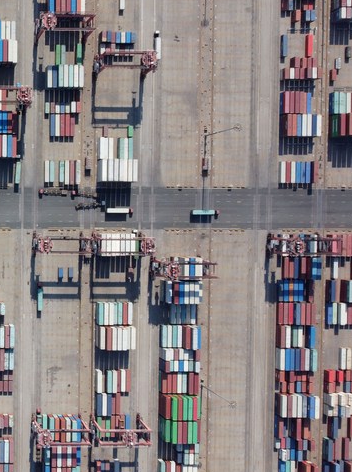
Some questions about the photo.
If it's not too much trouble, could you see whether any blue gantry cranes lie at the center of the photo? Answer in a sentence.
No, no blue gantry crane appears at the center of the photo.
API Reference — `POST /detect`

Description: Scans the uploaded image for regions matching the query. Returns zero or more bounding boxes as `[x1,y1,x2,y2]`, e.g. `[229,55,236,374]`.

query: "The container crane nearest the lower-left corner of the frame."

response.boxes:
[33,413,91,447]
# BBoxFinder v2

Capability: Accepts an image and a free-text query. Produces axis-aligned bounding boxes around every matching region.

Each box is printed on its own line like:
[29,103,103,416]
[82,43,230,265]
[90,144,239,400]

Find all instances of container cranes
[30,233,89,258]
[92,233,157,258]
[270,233,342,258]
[95,49,158,81]
[91,413,152,447]
[37,11,96,46]
[33,413,91,447]
[153,256,218,280]
[0,84,32,114]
